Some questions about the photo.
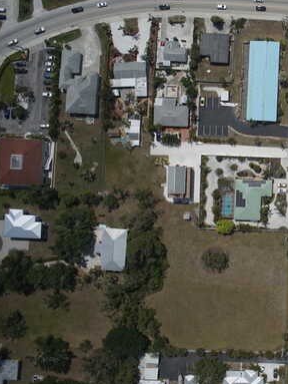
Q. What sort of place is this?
residential area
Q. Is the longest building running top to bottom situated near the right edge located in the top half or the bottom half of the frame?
top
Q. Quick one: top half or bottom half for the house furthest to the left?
bottom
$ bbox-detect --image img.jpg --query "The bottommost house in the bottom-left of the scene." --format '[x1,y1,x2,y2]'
[0,359,25,384]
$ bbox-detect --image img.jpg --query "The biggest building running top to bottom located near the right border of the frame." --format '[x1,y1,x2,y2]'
[246,39,285,122]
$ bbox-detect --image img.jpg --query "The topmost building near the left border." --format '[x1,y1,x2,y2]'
[0,139,55,185]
